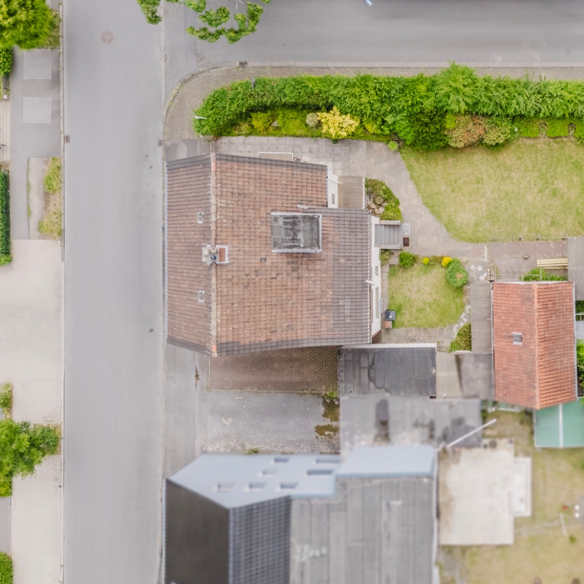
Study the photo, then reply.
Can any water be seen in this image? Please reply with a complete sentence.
No, the picture contains no water.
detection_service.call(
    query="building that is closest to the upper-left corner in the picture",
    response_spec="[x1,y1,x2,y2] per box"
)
[165,153,381,355]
